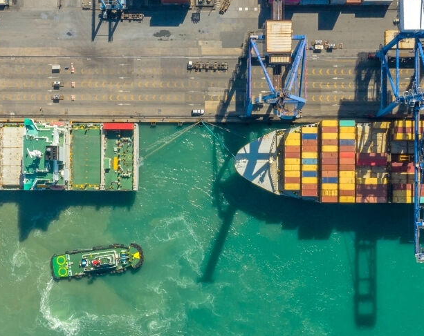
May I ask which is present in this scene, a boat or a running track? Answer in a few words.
boat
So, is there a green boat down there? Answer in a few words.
Yes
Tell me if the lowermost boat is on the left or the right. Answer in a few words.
left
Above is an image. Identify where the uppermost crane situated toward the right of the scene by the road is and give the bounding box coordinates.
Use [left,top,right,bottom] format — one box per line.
[236,0,307,118]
